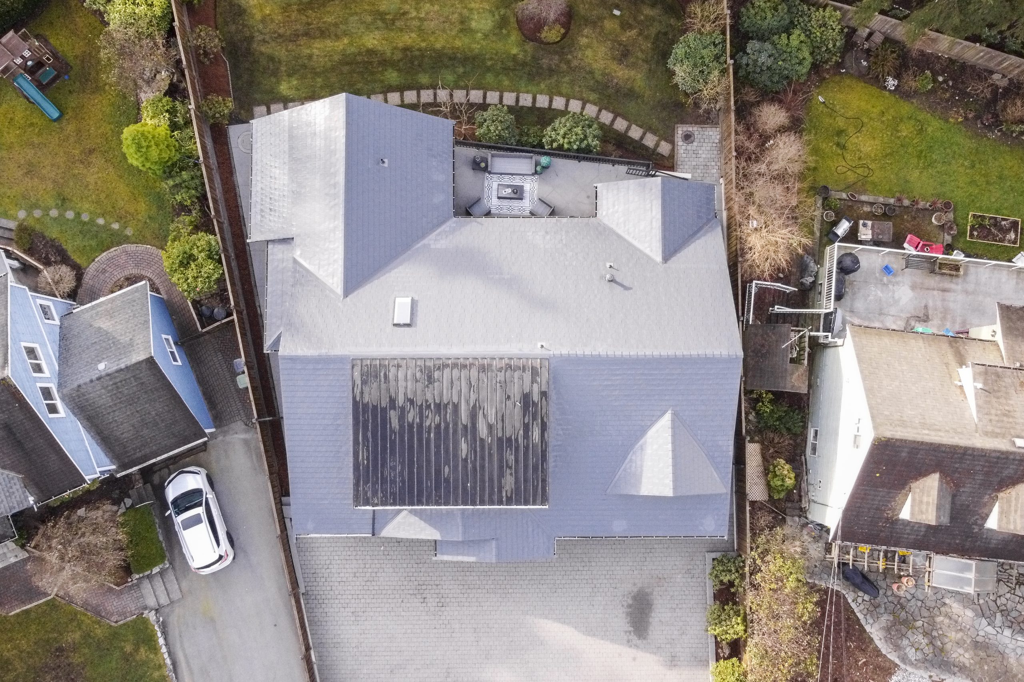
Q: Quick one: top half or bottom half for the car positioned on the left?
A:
bottom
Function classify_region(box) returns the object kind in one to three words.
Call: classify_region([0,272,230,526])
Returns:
house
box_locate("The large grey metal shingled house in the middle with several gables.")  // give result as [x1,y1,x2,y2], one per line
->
[244,91,744,563]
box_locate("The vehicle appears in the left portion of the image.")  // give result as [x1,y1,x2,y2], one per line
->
[160,465,234,580]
